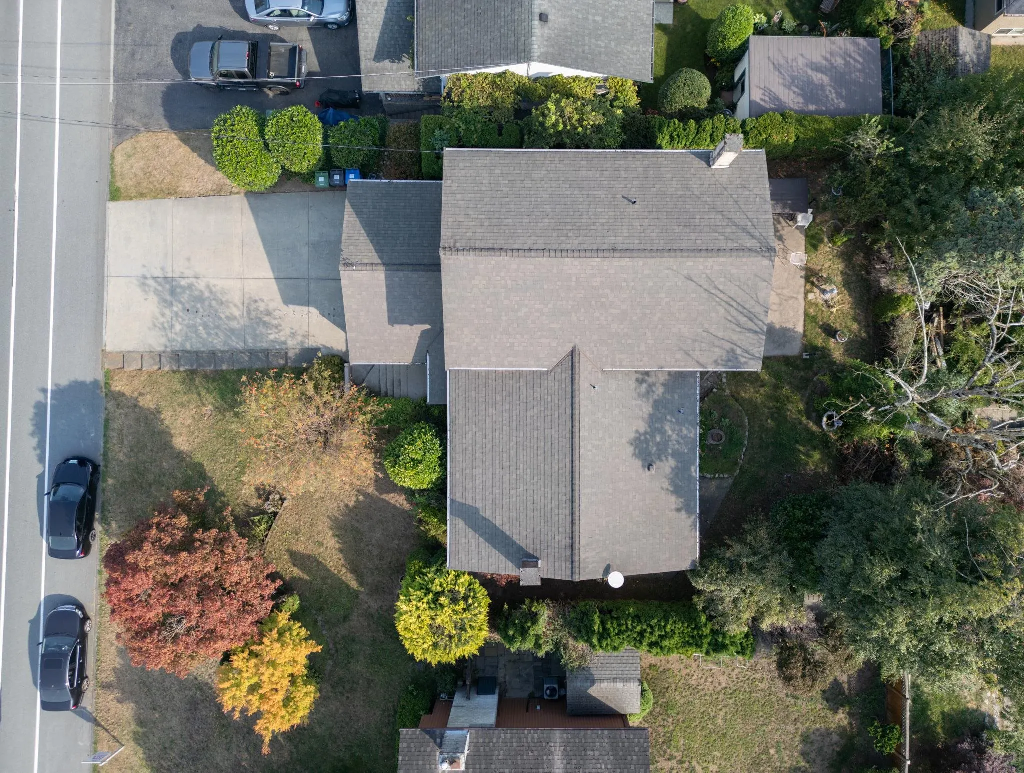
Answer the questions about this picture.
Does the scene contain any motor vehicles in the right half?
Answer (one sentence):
No, I see no motor vehicle in the right half.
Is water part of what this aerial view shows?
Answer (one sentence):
No, the picture contains no water.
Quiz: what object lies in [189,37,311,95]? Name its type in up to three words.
truck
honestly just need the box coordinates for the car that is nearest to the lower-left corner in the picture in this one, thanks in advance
[36,604,92,714]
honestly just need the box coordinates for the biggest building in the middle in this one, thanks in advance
[340,133,776,585]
